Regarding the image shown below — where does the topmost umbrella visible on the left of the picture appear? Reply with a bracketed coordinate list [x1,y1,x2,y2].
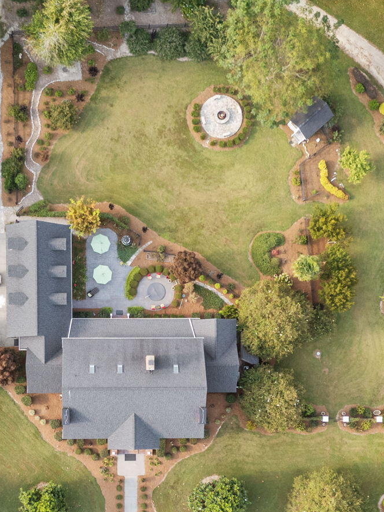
[91,235,110,254]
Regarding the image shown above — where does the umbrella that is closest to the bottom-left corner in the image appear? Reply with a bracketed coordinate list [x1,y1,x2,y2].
[94,265,112,284]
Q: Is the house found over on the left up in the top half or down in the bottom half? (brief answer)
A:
bottom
